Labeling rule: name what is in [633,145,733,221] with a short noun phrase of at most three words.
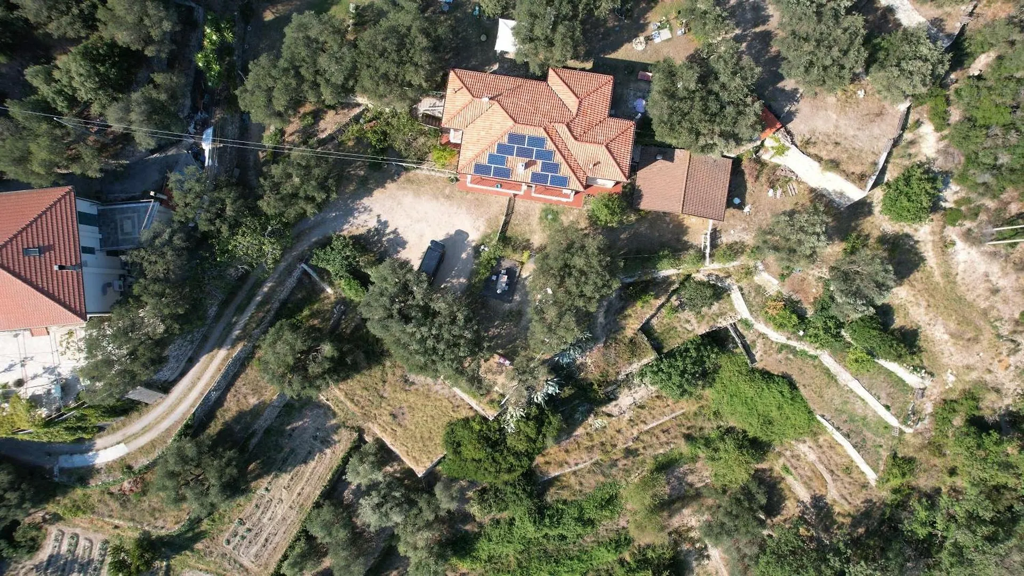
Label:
shed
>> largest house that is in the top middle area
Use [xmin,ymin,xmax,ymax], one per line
[441,67,636,208]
